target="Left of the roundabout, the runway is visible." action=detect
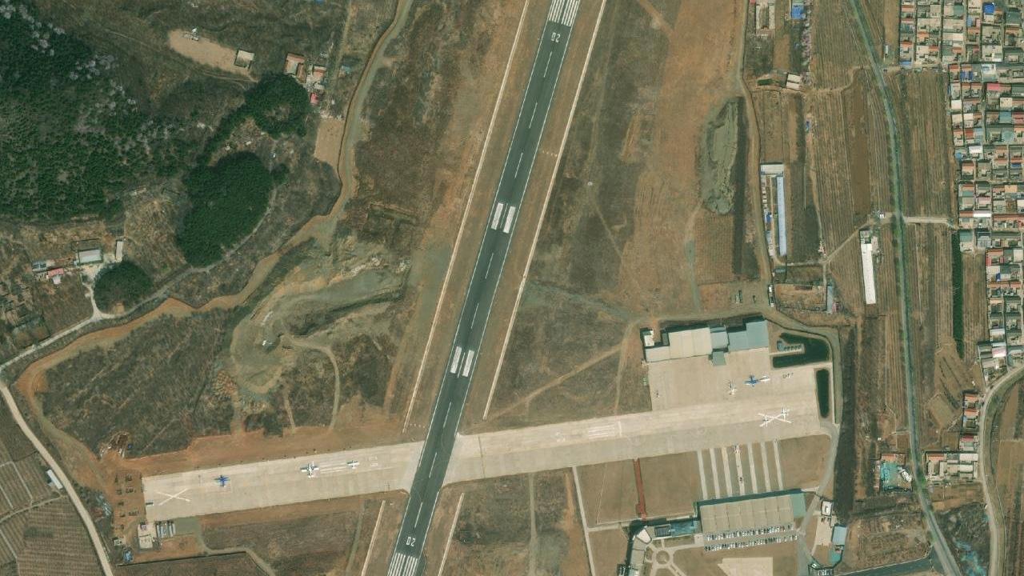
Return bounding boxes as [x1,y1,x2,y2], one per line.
[387,0,581,576]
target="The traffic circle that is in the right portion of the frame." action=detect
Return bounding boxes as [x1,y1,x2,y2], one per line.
[644,539,704,576]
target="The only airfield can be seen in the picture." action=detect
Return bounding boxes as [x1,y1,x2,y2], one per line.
[143,0,832,576]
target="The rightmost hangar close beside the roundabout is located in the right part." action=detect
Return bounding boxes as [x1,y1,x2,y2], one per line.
[700,495,795,535]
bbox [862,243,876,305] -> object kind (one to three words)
greenhouse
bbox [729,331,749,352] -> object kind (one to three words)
hangar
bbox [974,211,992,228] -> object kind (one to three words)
house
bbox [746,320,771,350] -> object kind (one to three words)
hangar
